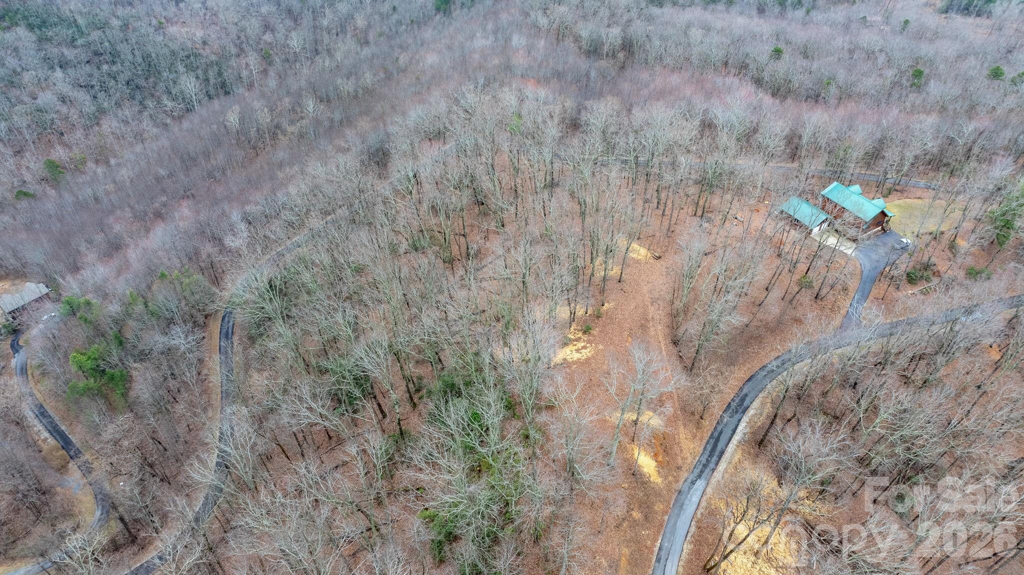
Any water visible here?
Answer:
No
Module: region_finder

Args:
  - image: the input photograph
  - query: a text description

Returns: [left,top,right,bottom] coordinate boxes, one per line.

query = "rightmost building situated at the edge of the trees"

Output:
[818,179,897,239]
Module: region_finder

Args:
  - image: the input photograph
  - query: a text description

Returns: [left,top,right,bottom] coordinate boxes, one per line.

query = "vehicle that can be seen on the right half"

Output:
[893,236,915,251]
